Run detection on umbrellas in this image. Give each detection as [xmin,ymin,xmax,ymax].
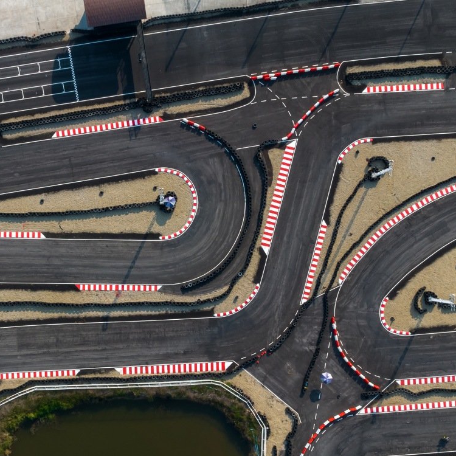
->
[163,197,176,210]
[320,372,333,384]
